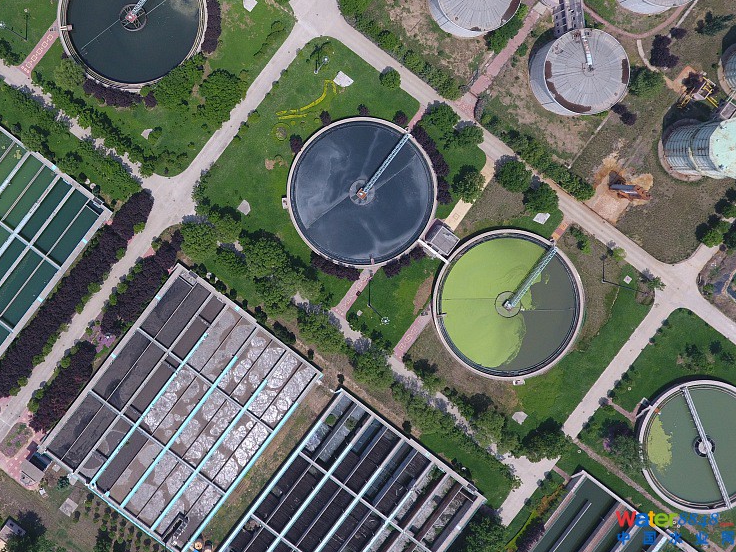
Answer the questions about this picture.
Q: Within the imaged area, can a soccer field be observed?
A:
No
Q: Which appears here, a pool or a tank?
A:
tank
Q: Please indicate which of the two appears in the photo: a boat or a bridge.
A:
bridge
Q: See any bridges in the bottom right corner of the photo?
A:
Yes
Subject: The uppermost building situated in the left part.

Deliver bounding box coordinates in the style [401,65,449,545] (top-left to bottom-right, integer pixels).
[20,450,53,483]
